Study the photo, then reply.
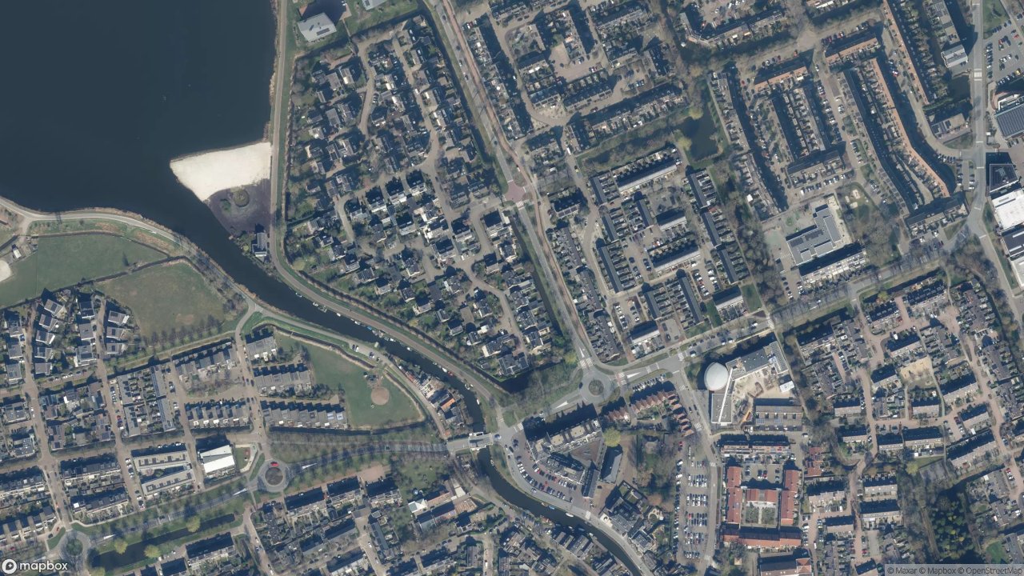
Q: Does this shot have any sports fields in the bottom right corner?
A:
No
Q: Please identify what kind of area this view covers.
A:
residential area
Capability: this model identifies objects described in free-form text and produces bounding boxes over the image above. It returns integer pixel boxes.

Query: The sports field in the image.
[280,332,421,428]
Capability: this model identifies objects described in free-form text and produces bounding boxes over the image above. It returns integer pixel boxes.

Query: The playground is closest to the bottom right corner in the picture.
[900,357,934,389]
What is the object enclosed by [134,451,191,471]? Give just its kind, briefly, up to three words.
building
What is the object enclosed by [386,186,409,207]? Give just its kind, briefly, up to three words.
house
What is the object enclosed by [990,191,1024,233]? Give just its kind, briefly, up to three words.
building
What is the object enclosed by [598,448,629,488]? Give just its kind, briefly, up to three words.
house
